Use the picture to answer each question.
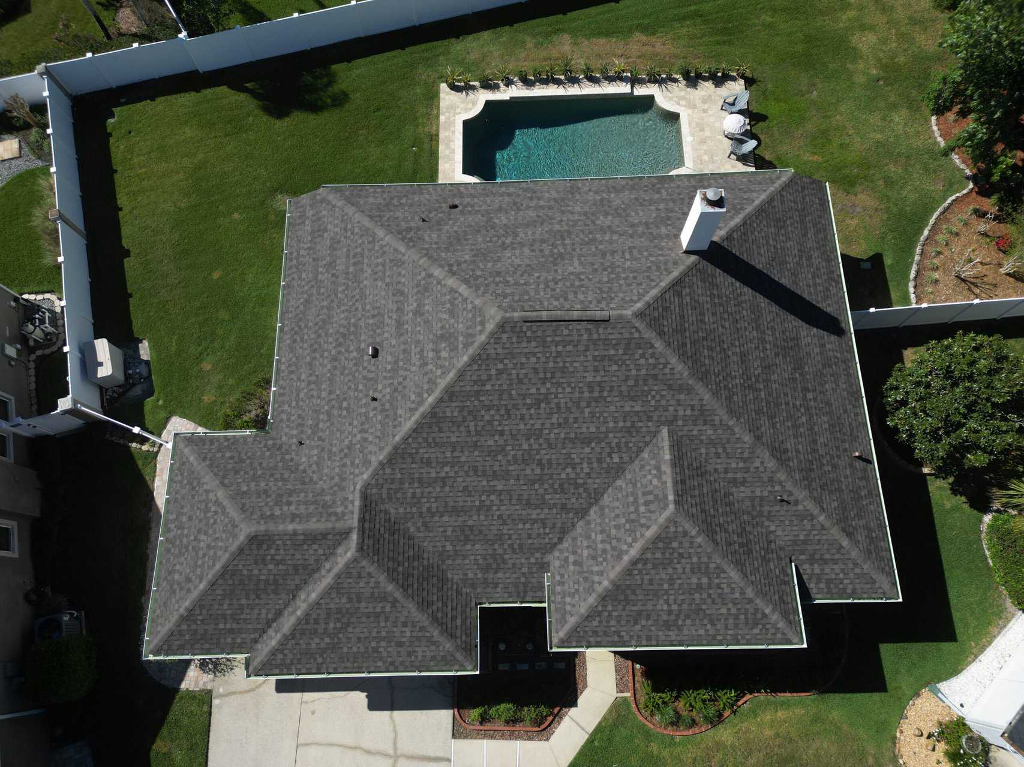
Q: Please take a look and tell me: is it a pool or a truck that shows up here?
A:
pool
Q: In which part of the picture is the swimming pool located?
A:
top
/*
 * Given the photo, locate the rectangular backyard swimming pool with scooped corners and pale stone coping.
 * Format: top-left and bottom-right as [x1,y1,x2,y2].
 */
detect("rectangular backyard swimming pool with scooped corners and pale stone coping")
[455,87,693,182]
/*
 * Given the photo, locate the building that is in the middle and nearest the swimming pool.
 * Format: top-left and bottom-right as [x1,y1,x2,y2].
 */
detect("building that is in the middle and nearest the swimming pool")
[144,171,901,679]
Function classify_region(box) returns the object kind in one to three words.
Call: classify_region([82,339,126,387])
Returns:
shed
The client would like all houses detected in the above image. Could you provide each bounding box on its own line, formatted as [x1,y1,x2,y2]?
[0,284,44,767]
[966,644,1024,767]
[144,171,901,679]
